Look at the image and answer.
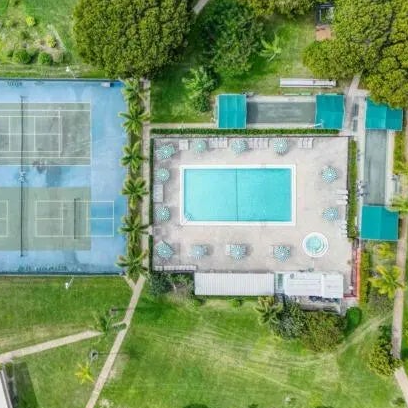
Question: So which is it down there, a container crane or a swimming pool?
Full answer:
Of the two, only a swimming pool appears.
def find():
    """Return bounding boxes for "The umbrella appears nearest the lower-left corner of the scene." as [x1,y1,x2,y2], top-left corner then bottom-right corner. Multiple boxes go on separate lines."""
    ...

[156,243,171,258]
